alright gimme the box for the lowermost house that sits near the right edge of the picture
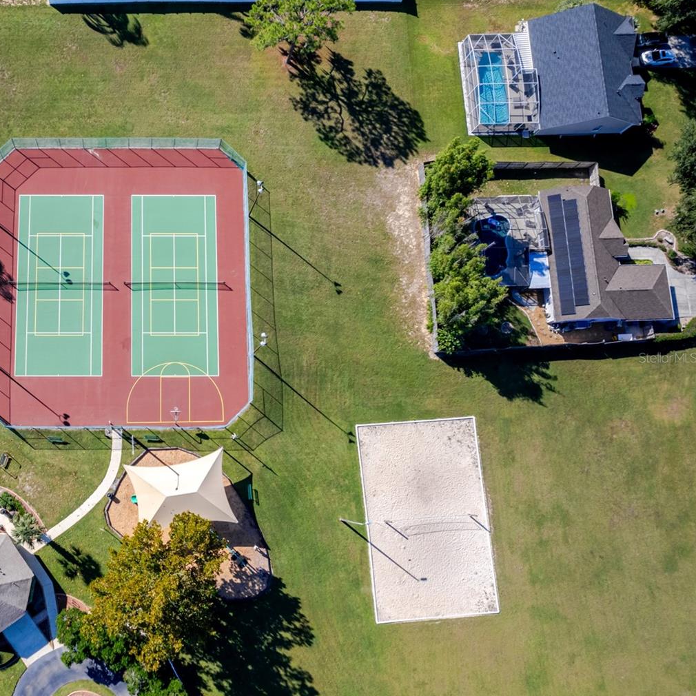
[533,185,674,323]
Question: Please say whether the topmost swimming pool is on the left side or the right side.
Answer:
right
